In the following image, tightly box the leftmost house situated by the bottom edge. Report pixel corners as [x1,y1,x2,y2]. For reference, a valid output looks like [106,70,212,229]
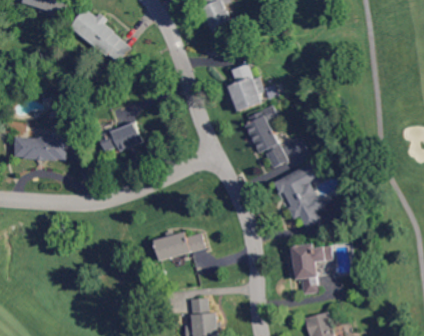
[192,298,220,336]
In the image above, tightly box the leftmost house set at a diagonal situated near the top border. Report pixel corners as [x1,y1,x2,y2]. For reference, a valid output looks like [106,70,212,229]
[74,11,130,58]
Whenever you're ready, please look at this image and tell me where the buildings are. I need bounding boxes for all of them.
[292,245,334,295]
[307,310,337,336]
[192,298,220,336]
[229,62,266,111]
[154,232,209,260]
[248,104,290,168]
[101,122,144,152]
[275,170,326,220]
[74,11,130,58]
[22,0,64,10]
[206,0,230,24]
[14,137,68,161]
